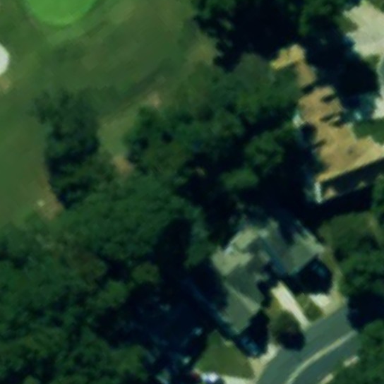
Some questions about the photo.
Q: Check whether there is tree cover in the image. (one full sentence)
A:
Yes, tree cover can be seen from above here.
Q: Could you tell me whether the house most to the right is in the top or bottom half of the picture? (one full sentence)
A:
You can find the house most to the right in the top half.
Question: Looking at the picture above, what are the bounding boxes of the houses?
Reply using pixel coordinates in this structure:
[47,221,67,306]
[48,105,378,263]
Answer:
[269,42,384,198]
[205,203,329,331]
